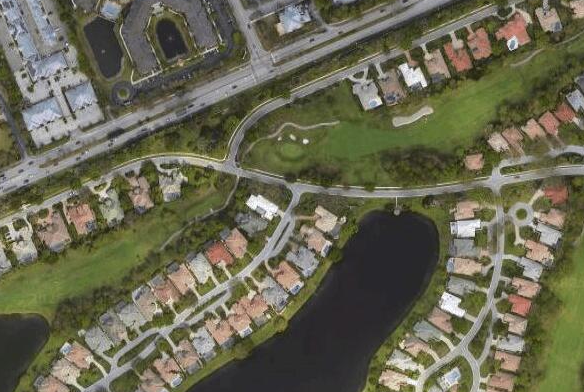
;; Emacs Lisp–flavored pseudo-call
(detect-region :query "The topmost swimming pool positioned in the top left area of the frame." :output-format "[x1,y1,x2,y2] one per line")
[100,1,122,21]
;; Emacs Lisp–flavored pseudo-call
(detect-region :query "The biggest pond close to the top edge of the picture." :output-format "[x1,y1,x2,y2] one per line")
[84,16,124,78]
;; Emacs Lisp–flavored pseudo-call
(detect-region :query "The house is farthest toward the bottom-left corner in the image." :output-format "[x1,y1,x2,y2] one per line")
[30,373,65,392]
